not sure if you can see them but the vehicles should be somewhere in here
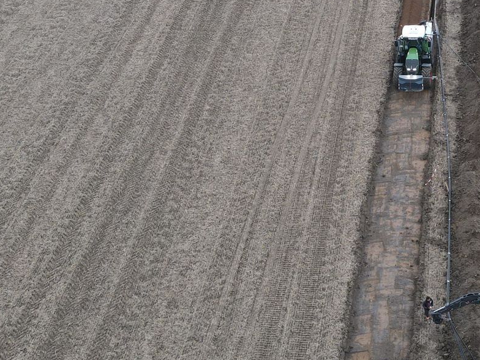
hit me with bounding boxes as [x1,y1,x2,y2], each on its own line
[394,22,449,97]
[434,289,480,332]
